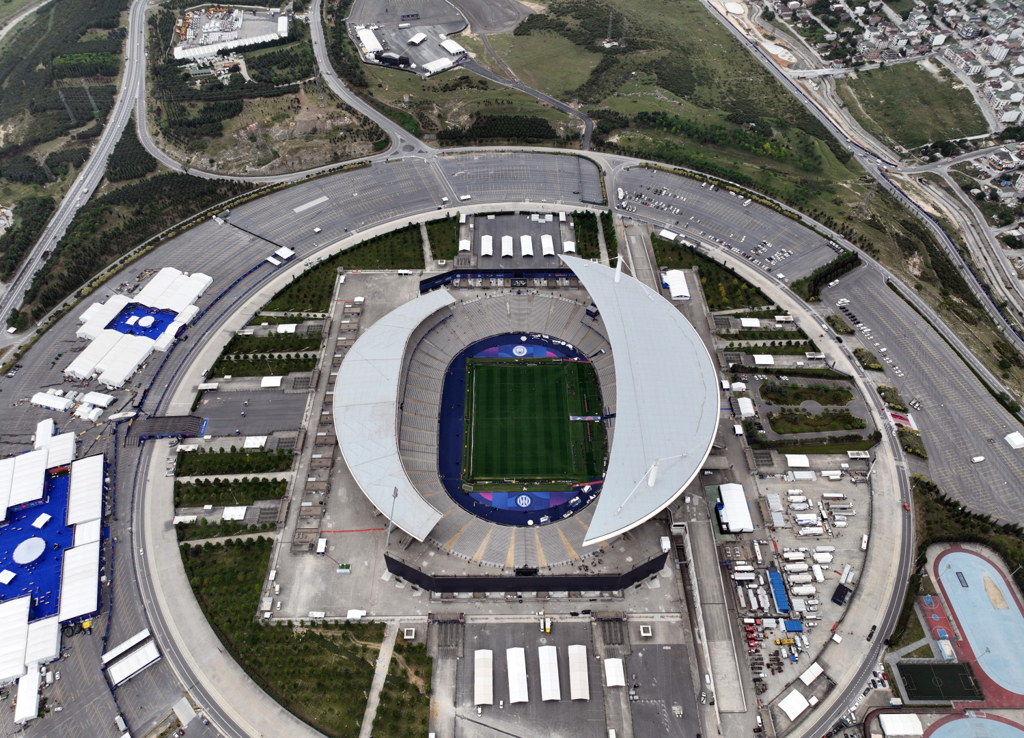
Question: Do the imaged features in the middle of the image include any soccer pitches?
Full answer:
Yes, a soccer pitch shows up in the middle of the image.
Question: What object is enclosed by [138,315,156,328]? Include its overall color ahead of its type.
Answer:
white umbrella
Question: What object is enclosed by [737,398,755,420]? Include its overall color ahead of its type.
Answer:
white tent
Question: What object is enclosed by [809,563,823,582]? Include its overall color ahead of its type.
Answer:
white vehicle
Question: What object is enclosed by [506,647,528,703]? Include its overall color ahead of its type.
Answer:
white tent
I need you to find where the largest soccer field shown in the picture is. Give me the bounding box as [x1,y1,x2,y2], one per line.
[461,357,606,492]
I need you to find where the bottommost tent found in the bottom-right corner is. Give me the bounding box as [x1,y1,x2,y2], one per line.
[875,713,923,738]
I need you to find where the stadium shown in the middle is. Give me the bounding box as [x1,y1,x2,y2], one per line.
[261,254,768,626]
